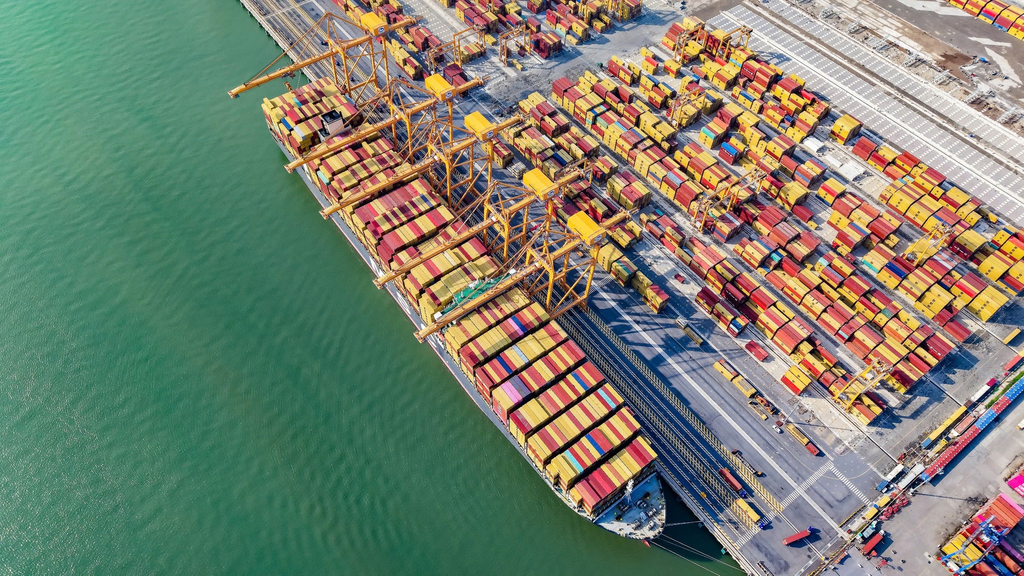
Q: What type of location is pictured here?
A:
port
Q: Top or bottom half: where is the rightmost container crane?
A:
bottom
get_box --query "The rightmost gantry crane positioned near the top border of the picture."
[715,17,756,61]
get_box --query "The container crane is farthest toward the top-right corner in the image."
[900,213,959,262]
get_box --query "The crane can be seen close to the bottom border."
[935,511,1013,576]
